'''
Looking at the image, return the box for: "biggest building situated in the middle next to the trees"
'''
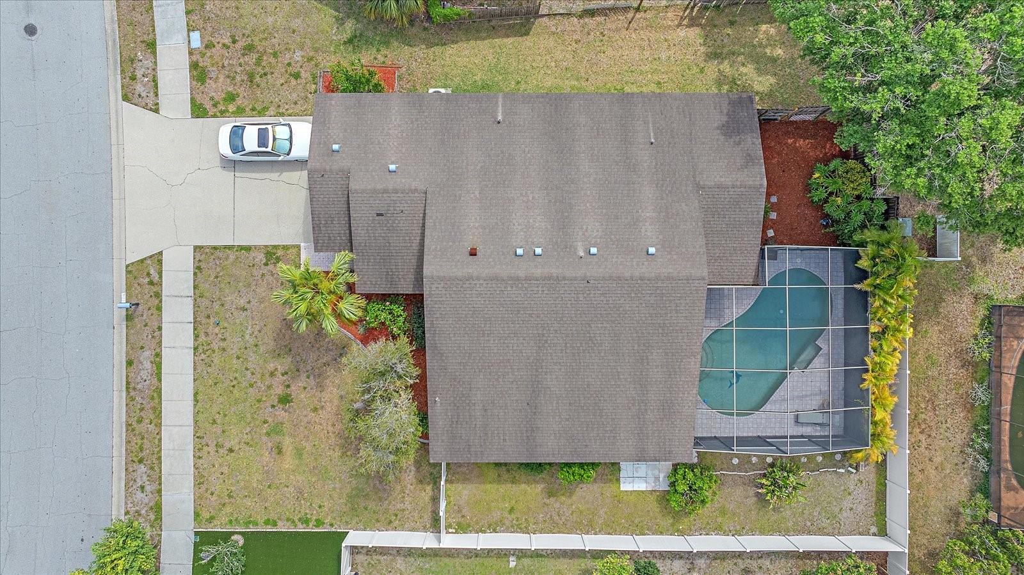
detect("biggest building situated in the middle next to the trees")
[307,93,766,462]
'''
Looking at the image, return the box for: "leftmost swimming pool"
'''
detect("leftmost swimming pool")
[699,257,836,423]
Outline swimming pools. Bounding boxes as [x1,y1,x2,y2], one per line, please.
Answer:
[1009,359,1024,486]
[699,257,836,423]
